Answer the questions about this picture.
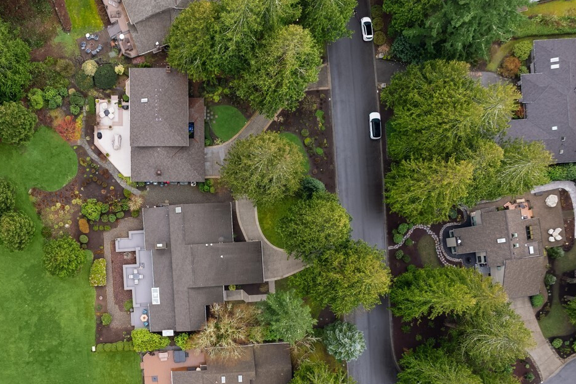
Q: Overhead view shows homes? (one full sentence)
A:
Yes, this view includes a home.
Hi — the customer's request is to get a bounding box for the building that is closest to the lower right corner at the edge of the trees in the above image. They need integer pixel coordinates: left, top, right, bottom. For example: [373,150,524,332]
[445,206,549,297]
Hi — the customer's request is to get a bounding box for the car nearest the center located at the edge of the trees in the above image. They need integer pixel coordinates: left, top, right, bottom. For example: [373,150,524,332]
[368,112,382,141]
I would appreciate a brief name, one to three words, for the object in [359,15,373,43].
car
